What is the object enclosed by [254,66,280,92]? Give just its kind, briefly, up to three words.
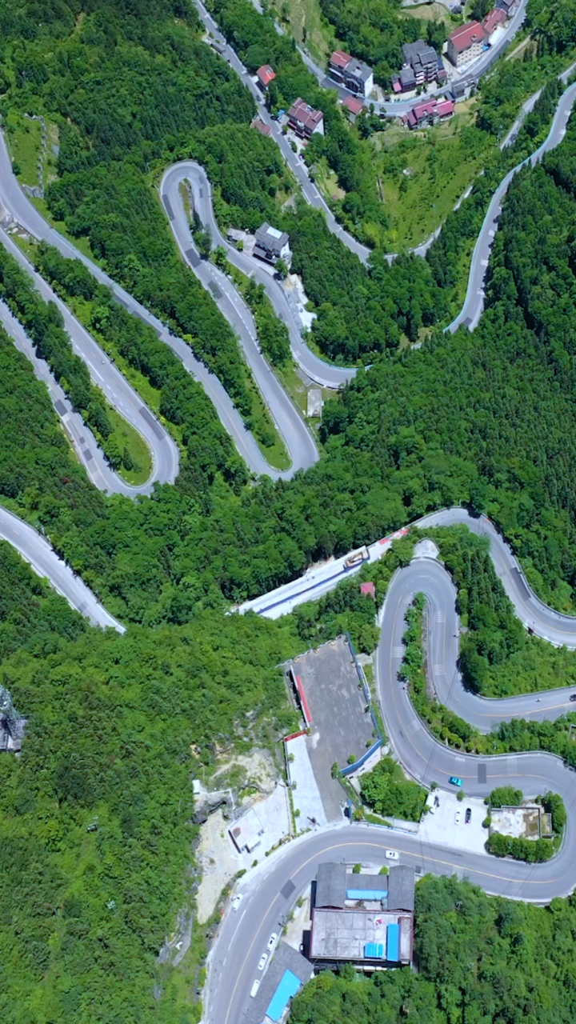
house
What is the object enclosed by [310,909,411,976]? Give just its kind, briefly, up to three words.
building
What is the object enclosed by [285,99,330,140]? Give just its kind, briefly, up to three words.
house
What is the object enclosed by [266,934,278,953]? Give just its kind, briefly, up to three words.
vehicle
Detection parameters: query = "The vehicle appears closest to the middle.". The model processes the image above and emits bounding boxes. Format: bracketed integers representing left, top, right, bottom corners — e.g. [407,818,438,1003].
[343,550,371,568]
